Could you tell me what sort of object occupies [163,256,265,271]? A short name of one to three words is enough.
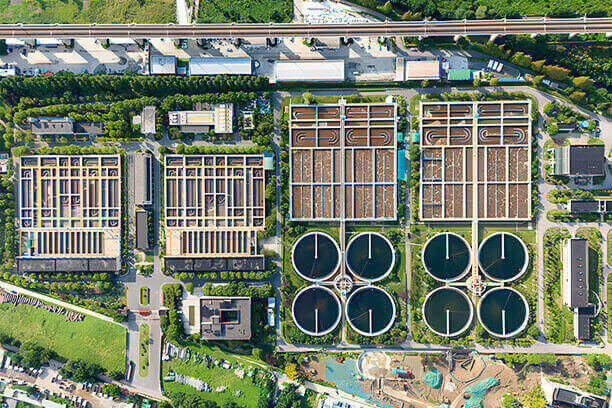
house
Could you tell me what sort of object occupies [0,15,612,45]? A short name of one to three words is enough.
bridge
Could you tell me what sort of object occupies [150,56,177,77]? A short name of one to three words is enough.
shed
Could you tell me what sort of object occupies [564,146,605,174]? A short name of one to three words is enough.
building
